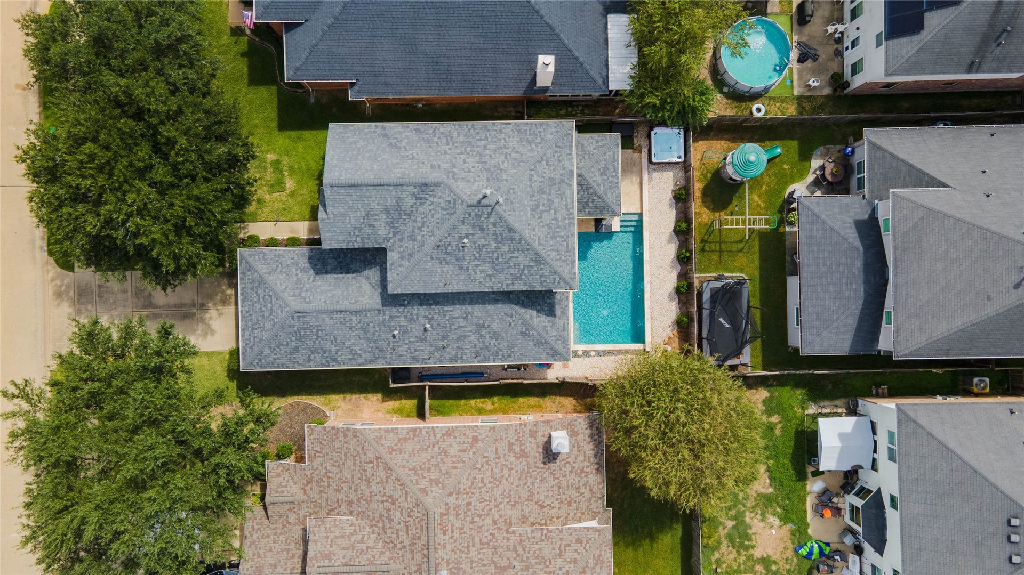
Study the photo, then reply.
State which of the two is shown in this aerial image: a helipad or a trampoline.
trampoline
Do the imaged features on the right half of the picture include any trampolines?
Yes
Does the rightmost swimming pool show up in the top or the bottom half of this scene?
top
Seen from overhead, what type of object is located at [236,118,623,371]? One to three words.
house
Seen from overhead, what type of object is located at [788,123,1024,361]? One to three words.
house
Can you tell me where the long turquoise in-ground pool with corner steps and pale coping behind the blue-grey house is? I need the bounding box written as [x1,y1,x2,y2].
[570,152,651,351]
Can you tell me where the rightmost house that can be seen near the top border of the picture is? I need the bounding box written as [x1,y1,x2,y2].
[844,0,1024,93]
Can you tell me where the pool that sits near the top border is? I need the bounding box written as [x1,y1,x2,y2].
[712,15,792,94]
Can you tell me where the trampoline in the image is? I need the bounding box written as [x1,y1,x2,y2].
[699,279,765,367]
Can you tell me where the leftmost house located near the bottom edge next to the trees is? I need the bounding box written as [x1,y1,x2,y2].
[232,413,615,575]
